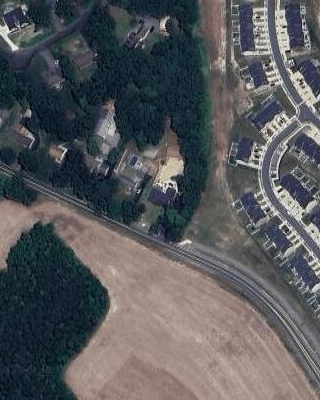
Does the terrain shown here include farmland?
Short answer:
Yes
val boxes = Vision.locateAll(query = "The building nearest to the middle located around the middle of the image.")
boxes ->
[150,186,177,209]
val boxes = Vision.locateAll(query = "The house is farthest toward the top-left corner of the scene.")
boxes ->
[8,7,29,31]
